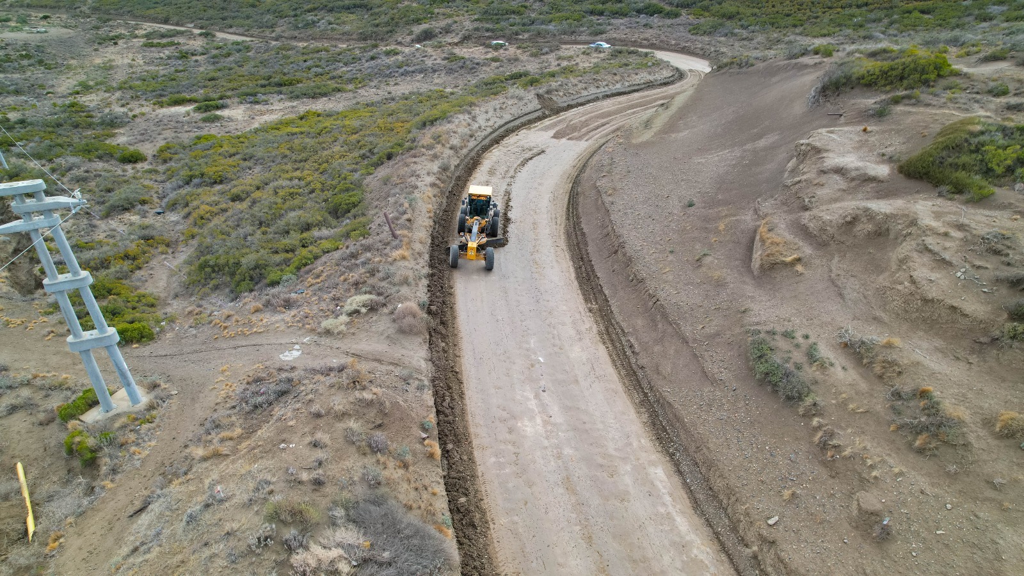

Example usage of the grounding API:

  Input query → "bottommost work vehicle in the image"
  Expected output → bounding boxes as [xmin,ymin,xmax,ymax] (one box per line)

[446,185,506,271]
